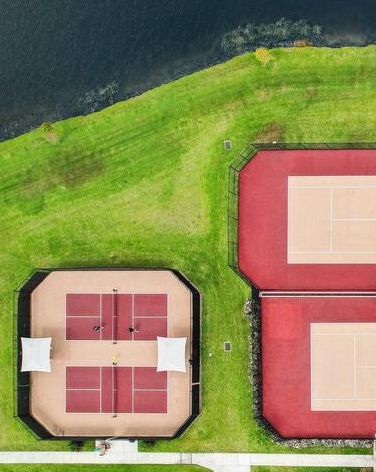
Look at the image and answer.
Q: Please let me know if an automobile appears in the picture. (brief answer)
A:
No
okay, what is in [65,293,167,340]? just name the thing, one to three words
sports court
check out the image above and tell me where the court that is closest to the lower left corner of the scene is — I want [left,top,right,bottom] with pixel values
[65,366,167,413]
